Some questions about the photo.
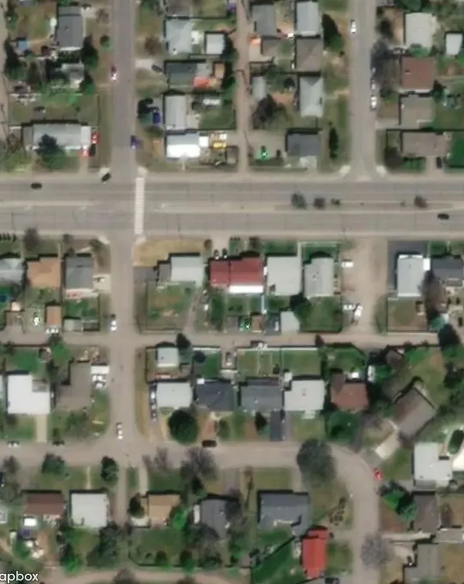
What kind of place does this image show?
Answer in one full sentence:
It's a residential area.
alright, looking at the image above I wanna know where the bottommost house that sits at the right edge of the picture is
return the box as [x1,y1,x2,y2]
[405,542,441,584]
